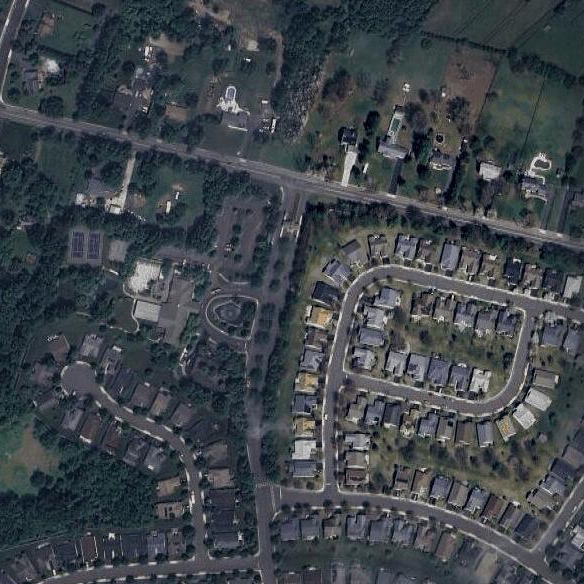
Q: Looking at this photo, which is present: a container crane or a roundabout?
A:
roundabout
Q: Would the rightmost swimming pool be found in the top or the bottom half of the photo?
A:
top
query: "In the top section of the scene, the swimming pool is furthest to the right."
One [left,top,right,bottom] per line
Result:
[528,157,551,182]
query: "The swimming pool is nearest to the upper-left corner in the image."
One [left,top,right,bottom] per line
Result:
[216,86,249,114]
